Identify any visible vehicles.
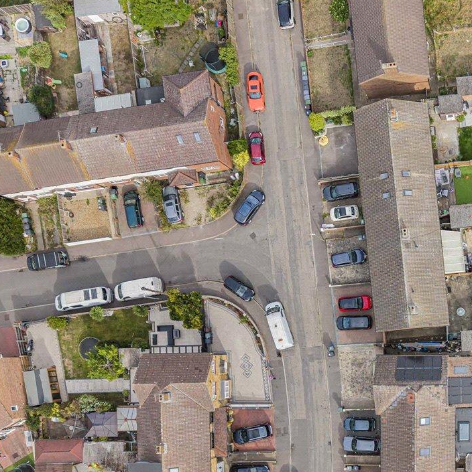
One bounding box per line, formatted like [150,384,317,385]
[231,422,274,445]
[162,186,184,224]
[265,301,294,350]
[321,181,360,202]
[330,205,360,222]
[122,189,147,229]
[338,294,373,312]
[222,273,256,304]
[275,0,296,29]
[232,188,266,228]
[331,248,366,267]
[343,415,376,432]
[60,287,109,311]
[336,314,372,332]
[246,71,266,113]
[27,251,71,271]
[247,132,266,166]
[115,277,165,301]
[230,464,271,472]
[343,436,379,453]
